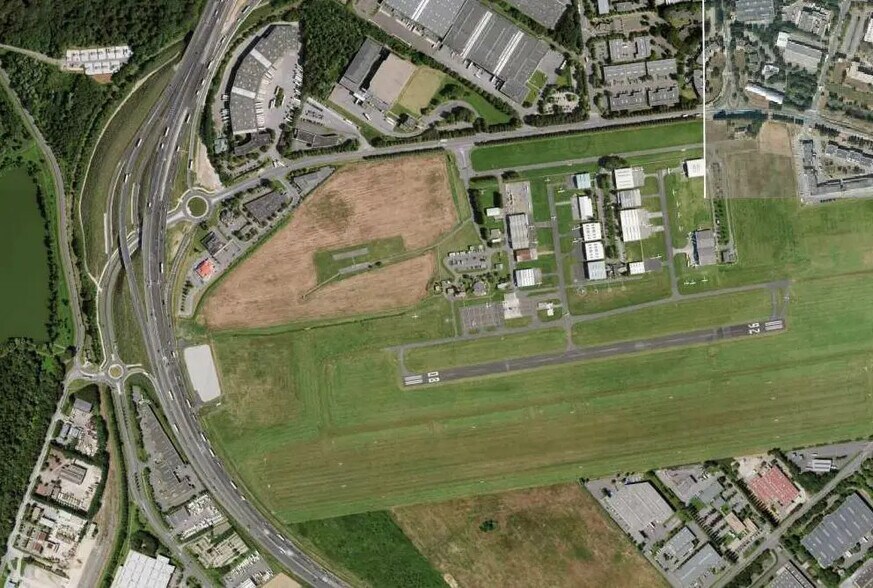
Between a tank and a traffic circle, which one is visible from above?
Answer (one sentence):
The image shows a traffic circle.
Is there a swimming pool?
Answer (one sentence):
No, the scene contains no swimming pool.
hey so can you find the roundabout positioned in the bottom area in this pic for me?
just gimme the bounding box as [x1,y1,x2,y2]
[84,345,141,394]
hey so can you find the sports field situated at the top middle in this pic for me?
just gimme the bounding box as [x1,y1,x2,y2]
[401,67,447,114]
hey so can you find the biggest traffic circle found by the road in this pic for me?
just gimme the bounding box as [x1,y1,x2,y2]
[167,187,222,225]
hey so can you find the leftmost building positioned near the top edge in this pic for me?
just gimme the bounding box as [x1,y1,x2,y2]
[230,25,298,133]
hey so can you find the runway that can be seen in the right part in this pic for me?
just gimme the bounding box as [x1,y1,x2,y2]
[404,320,787,385]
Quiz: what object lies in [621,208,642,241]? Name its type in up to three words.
hangar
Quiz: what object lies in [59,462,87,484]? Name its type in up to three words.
shed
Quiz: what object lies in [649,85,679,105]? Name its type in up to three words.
building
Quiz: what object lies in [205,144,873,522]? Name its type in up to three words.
airport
